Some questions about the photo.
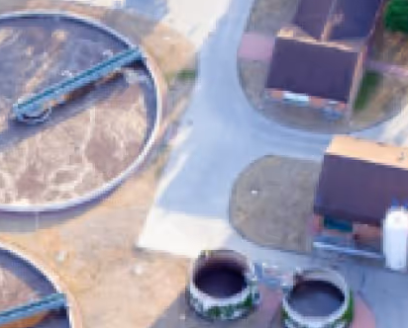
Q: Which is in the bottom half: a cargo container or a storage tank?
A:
storage tank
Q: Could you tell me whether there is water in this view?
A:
Yes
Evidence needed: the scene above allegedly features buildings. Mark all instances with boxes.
[309,135,408,253]
[267,0,382,122]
